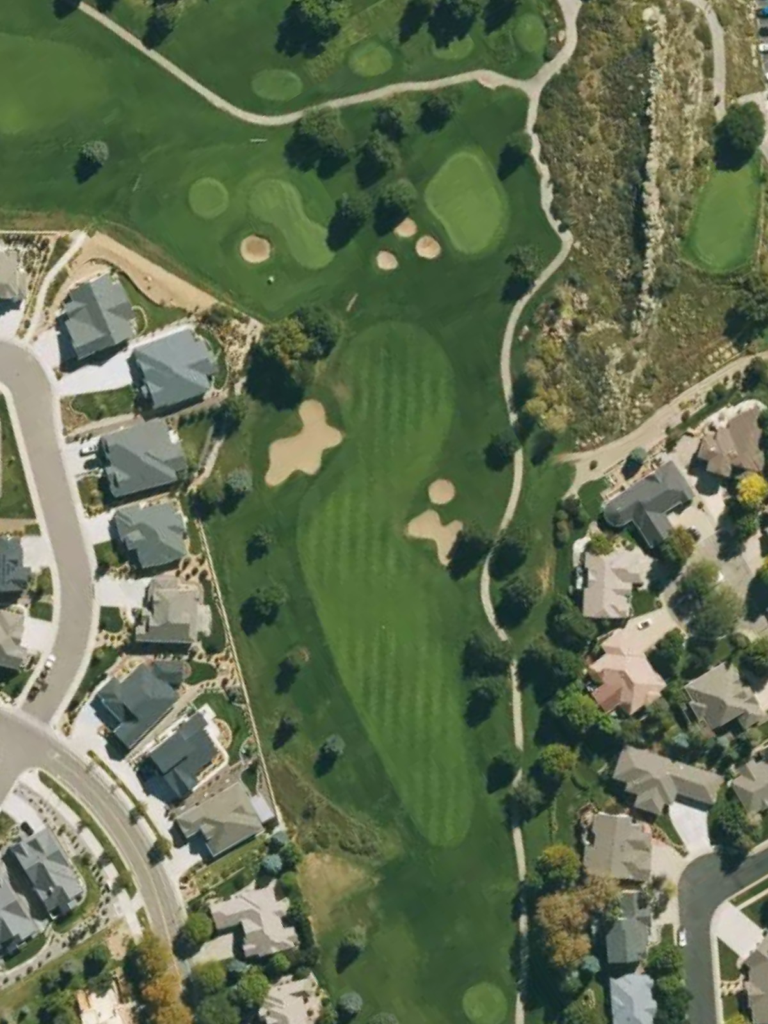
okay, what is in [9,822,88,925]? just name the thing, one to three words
house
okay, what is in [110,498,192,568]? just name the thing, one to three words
house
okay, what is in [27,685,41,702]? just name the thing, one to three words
car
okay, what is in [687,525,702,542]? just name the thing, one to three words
car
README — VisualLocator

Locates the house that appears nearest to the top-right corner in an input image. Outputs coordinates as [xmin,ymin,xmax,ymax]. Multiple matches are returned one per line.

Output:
[699,404,768,479]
